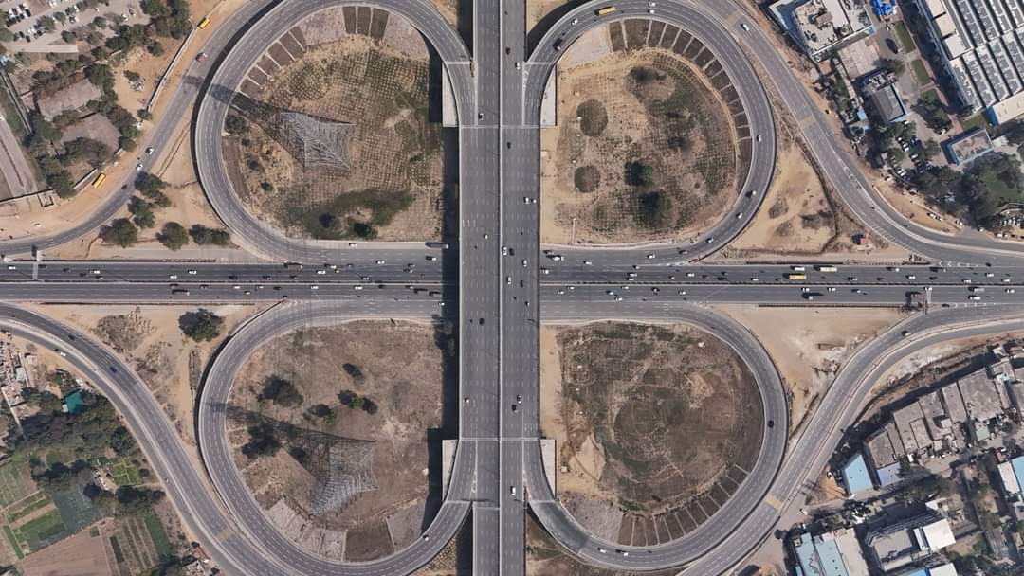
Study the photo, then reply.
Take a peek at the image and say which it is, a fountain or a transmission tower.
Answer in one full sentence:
It is a transmission tower that can be seen here.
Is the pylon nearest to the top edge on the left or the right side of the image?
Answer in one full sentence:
You can find the pylon nearest to the top edge on the left side of the picture.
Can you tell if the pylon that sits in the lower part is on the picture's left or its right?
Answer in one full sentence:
The pylon that sits in the lower part appears in the left half of the scene.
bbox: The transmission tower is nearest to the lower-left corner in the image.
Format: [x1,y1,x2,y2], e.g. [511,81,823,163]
[303,441,378,510]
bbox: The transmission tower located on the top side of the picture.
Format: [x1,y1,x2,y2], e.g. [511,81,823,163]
[274,110,356,169]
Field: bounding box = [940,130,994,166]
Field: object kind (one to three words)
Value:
house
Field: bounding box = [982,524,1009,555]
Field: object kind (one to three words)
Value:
house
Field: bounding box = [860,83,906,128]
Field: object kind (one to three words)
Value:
building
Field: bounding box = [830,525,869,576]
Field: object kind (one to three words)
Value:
shed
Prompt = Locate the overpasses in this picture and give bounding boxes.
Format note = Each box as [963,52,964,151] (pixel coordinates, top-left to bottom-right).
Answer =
[443,0,556,576]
